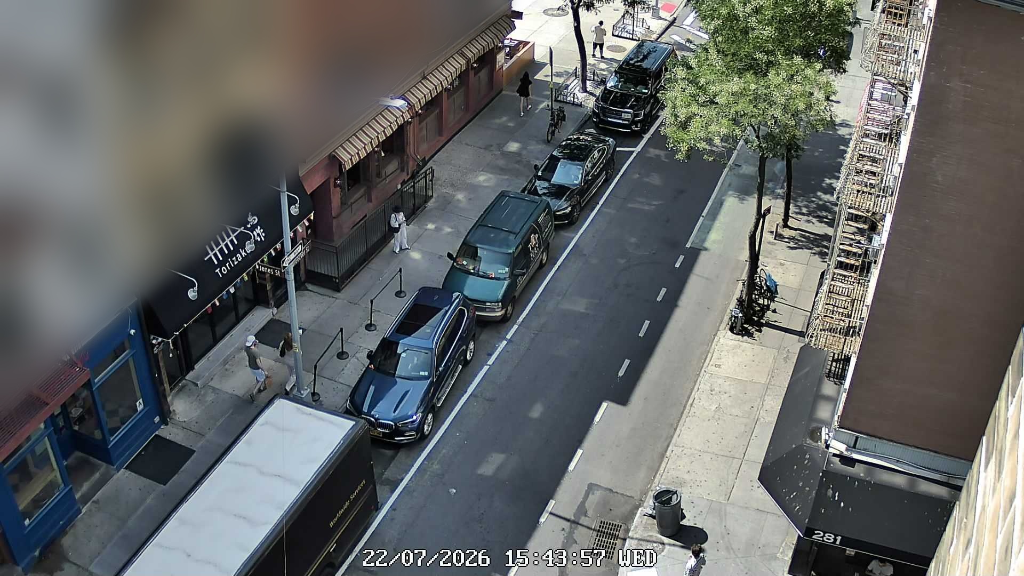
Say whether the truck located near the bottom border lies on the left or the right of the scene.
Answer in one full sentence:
The truck located near the bottom border is on the left side of the image.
